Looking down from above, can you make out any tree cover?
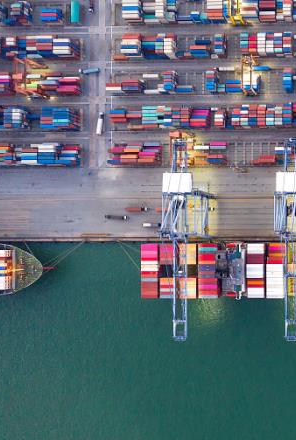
No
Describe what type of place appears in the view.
port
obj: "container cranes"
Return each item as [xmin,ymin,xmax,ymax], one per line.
[240,57,260,100]
[273,140,296,342]
[161,135,218,342]
[227,0,247,28]
[13,57,45,98]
